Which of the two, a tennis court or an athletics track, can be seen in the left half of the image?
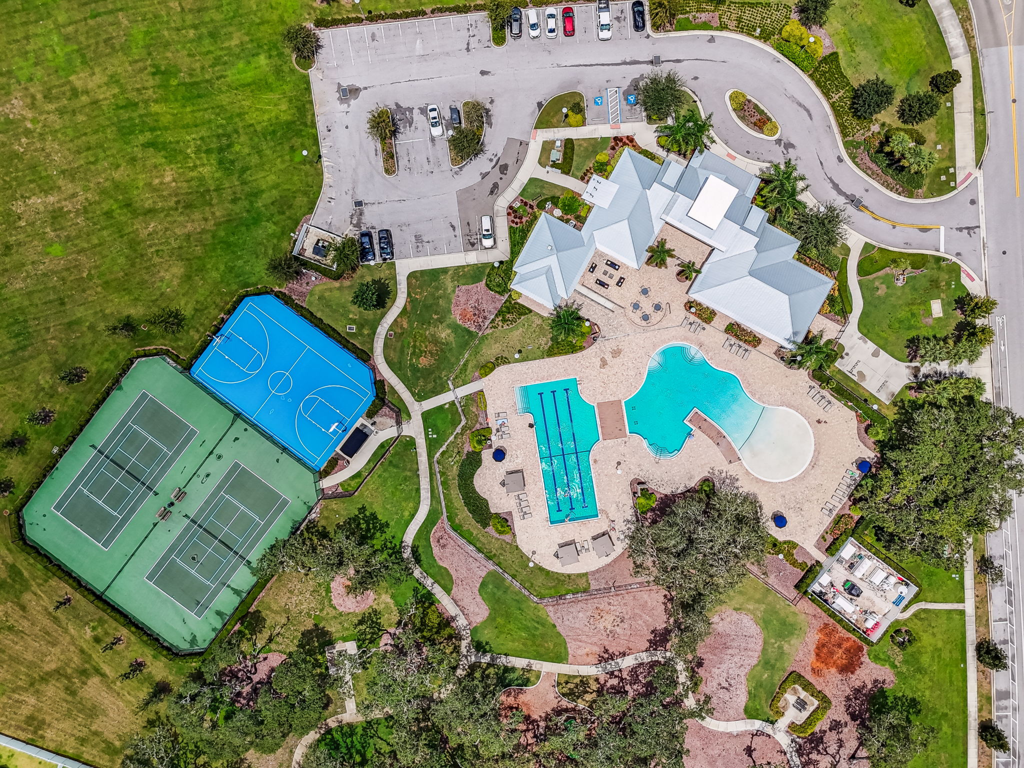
tennis court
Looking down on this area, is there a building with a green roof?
No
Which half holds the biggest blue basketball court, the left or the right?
left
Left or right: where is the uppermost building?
right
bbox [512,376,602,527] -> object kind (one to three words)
swimming pool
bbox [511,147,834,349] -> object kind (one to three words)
building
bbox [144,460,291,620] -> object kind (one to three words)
tennis court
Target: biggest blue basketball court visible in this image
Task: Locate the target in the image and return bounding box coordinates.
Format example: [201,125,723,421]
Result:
[189,295,373,471]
